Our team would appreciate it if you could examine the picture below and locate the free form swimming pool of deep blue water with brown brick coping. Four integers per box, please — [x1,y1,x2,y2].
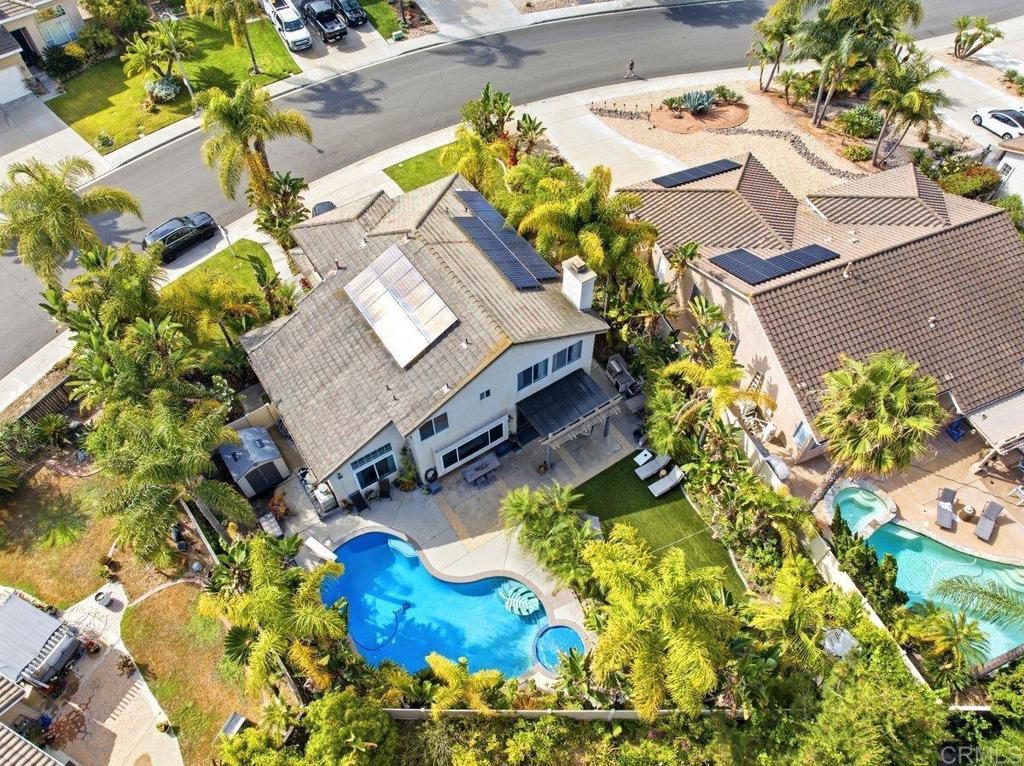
[316,527,552,687]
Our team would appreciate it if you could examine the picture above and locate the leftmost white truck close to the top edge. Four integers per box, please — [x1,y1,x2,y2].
[267,3,311,50]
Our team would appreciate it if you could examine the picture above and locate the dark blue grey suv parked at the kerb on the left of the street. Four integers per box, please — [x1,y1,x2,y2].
[140,210,218,264]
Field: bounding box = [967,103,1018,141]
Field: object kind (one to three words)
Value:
car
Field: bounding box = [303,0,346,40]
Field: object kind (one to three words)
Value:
truck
